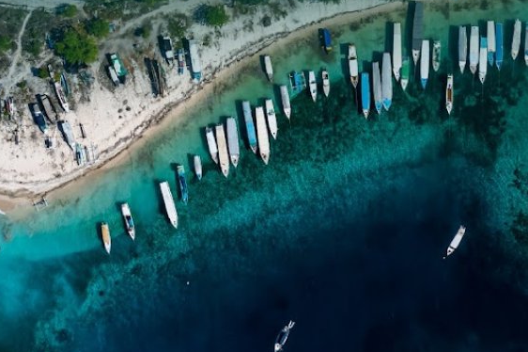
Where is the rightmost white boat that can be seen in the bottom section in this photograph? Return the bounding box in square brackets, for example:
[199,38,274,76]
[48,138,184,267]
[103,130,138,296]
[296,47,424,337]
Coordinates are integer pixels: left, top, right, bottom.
[448,226,465,256]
